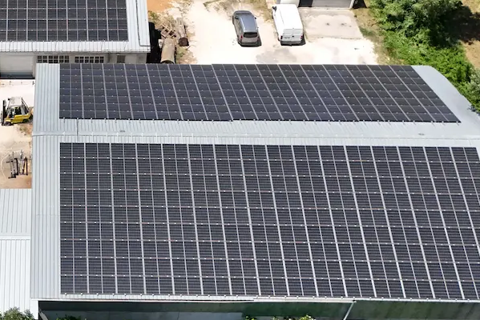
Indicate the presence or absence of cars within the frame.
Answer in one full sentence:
Yes, there is a car in the image.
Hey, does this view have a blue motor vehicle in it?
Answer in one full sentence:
No, the picture doesn't show any blue motor vehicle.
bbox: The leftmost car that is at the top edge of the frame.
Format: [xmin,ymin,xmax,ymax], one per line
[236,9,261,42]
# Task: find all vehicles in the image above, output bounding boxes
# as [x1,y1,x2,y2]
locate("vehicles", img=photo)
[274,3,304,42]
[0,94,33,122]
[236,9,261,42]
